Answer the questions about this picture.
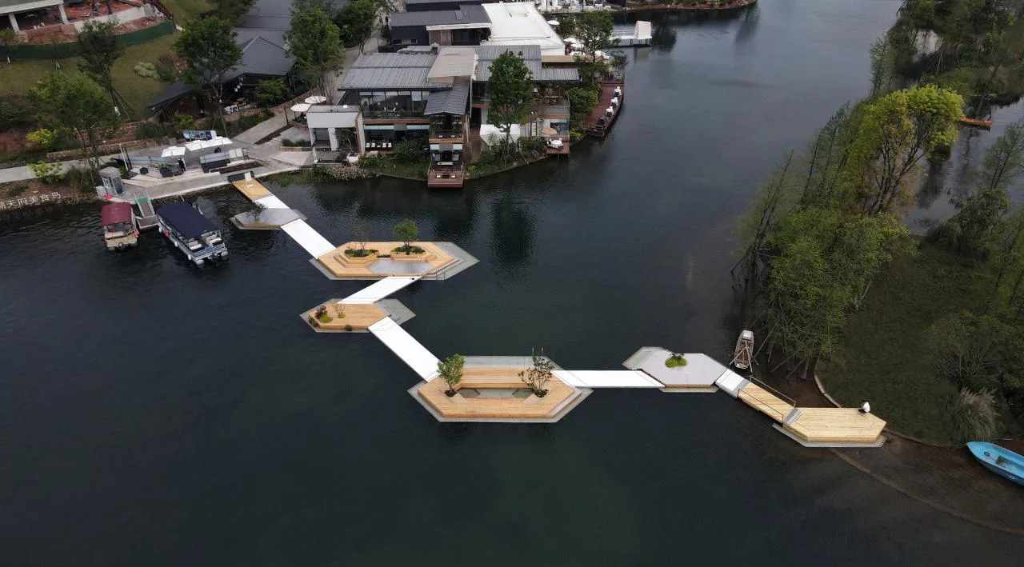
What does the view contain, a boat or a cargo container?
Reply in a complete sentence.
There is a boat in the scene.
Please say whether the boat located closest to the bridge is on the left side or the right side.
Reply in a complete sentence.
The boat located closest to the bridge appears in the right half of the scene.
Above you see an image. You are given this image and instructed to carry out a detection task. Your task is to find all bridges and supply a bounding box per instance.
[715,369,749,400]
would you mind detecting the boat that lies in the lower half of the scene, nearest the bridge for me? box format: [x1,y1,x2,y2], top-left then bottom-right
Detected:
[732,325,753,373]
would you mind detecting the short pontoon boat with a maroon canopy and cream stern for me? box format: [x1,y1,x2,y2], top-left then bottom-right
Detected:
[94,198,138,252]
